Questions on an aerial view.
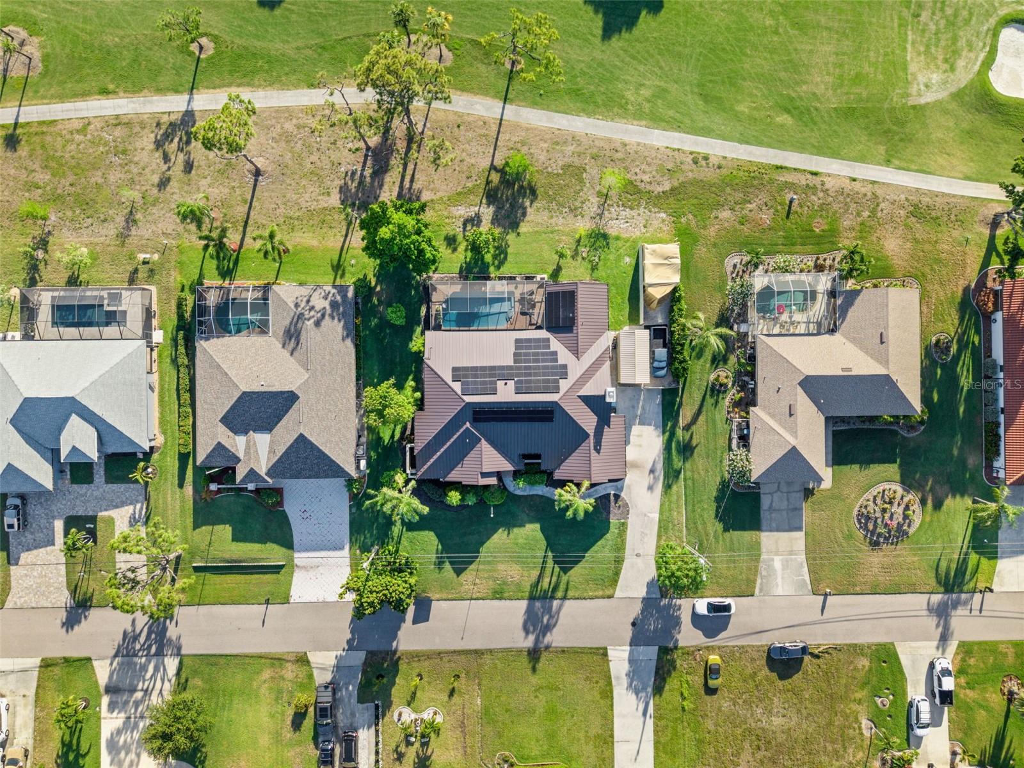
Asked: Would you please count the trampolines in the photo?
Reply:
0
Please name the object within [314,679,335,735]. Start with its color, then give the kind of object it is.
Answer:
gray truck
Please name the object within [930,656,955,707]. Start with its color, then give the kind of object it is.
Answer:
white truck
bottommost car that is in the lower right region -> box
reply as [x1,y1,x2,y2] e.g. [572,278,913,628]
[908,694,930,735]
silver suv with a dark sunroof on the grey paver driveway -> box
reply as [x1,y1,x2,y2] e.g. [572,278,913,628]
[3,493,27,531]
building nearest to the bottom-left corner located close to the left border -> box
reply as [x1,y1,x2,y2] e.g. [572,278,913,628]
[0,340,153,491]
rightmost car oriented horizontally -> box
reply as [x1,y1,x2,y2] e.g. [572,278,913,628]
[767,640,807,659]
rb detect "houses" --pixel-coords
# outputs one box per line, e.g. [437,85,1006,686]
[414,281,626,485]
[988,278,1024,485]
[747,285,920,483]
[0,340,153,491]
[195,285,356,484]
